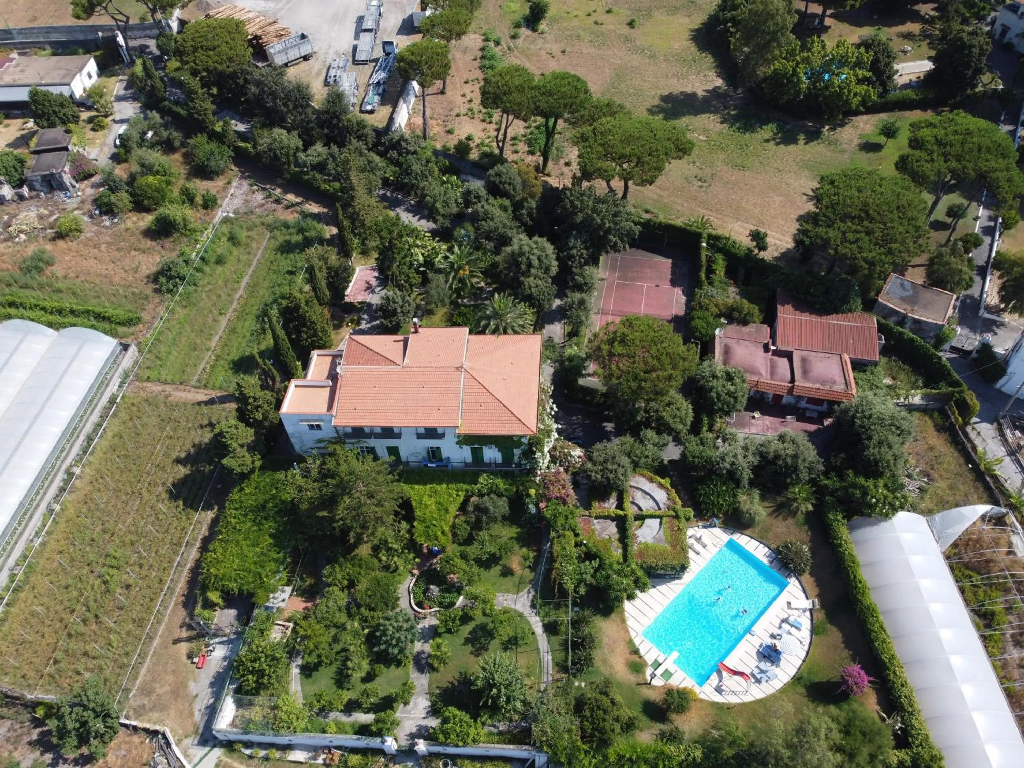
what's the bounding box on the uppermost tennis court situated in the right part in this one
[586,240,709,418]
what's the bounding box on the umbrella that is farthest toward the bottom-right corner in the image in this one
[777,634,802,658]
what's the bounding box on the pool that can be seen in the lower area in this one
[636,533,796,693]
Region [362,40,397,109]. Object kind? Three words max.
truck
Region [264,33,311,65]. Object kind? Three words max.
trailer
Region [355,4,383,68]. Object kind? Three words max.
truck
